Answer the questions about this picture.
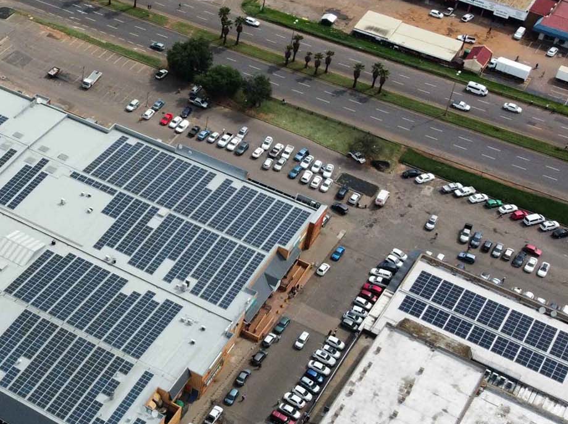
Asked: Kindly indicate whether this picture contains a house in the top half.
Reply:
Yes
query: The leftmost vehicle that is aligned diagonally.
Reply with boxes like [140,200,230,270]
[83,73,102,88]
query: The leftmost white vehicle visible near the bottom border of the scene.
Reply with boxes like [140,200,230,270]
[204,406,223,424]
